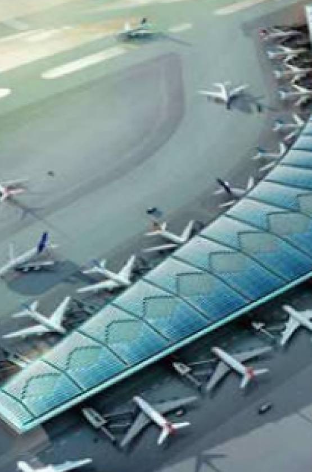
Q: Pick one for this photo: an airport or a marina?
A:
airport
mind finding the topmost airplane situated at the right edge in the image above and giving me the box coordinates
[262,25,300,41]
